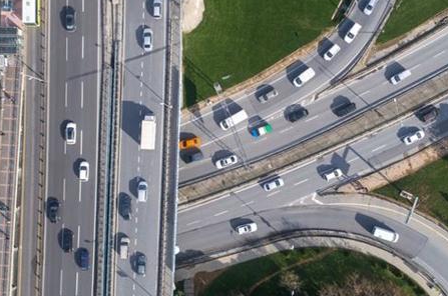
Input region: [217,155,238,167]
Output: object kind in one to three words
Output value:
vehicle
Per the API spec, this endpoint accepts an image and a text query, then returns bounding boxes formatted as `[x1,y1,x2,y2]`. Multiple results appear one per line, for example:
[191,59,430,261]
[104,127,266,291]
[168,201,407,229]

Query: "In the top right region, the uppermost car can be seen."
[362,0,378,16]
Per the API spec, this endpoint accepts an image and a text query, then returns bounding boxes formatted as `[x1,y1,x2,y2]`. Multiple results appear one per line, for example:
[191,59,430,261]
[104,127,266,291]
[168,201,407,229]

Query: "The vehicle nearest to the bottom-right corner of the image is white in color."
[374,226,398,241]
